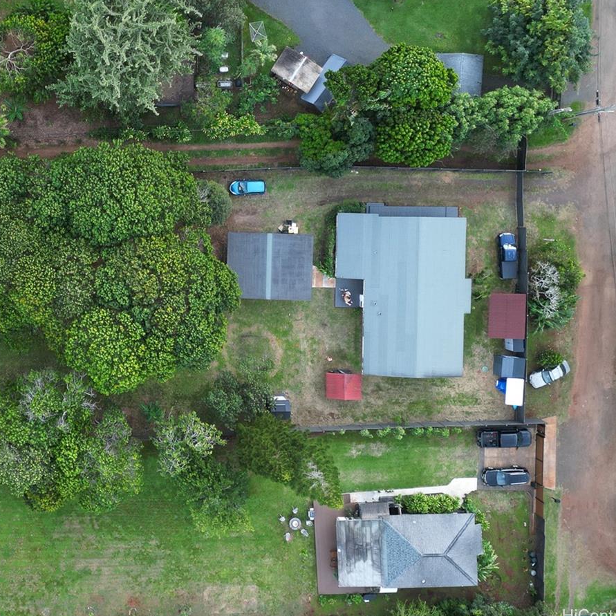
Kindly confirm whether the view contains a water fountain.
No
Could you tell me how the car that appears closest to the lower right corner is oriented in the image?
horizontally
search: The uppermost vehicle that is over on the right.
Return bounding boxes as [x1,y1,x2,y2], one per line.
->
[495,232,520,281]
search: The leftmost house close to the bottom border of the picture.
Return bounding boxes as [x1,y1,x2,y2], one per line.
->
[336,497,483,593]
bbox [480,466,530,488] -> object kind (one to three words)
car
